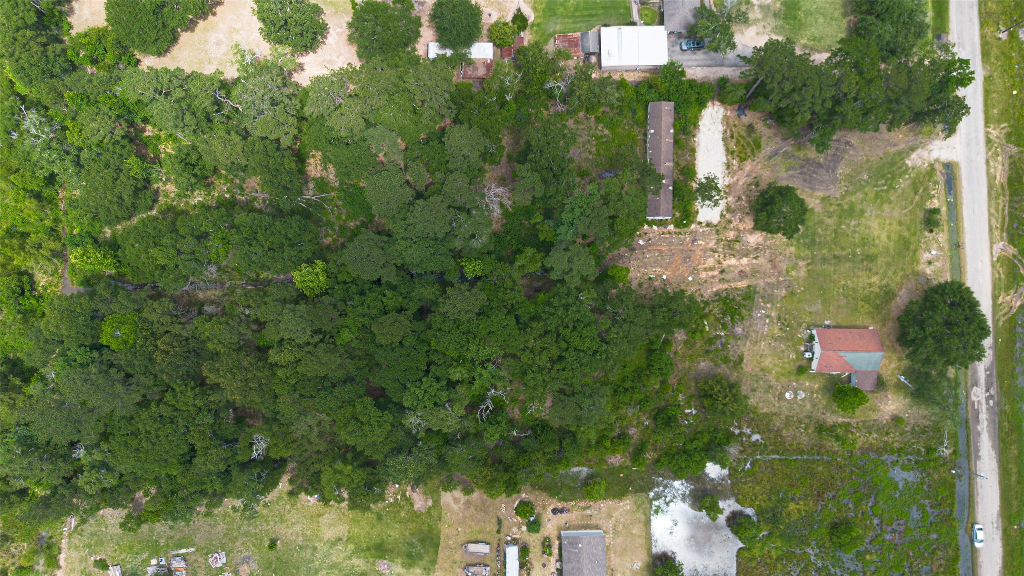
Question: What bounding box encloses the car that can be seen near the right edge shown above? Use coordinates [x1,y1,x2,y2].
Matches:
[970,522,984,548]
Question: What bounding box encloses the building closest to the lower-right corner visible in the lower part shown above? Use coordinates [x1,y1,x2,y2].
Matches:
[809,329,885,390]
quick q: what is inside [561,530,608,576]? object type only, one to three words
house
